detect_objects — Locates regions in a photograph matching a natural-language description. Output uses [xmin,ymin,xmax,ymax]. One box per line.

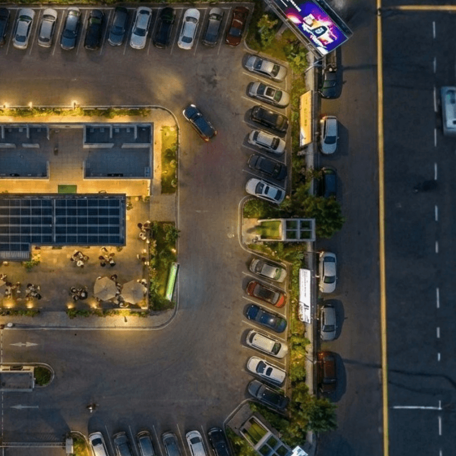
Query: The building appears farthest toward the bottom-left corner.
[0,366,36,389]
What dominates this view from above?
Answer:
paved ground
